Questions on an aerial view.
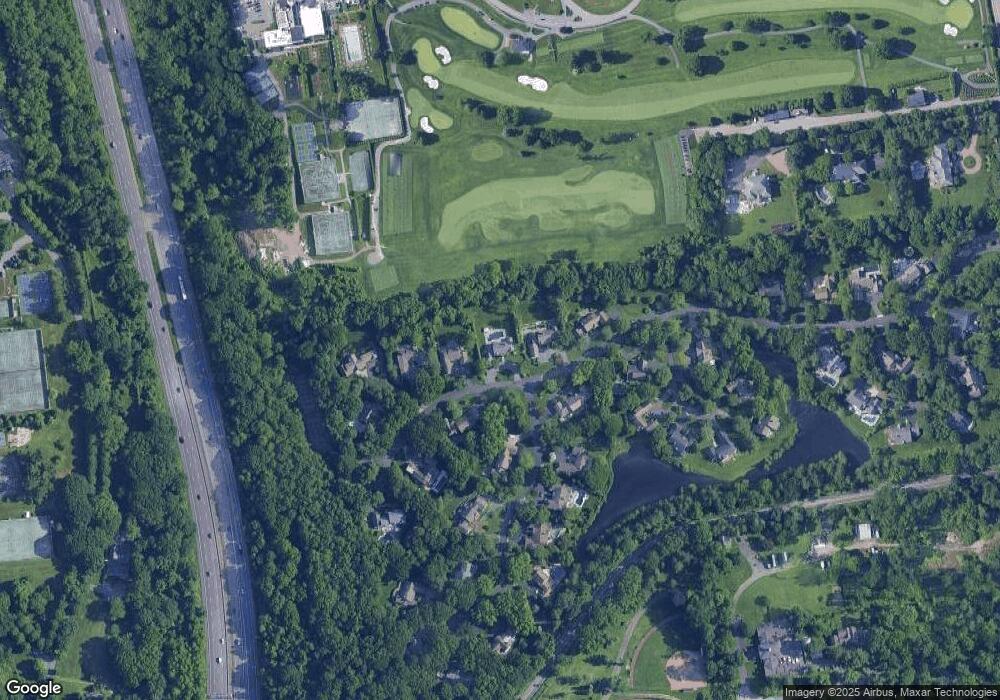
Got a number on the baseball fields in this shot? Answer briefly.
1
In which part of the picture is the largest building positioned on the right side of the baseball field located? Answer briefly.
bottom right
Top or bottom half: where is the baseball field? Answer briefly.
bottom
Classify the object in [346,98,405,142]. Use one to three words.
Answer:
tennis court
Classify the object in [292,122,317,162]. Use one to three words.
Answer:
sports court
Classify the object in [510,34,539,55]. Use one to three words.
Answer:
building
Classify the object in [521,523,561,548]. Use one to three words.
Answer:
house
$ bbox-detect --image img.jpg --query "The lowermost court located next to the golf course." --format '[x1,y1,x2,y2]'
[312,212,353,254]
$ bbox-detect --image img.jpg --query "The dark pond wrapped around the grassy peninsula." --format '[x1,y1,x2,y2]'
[579,338,867,573]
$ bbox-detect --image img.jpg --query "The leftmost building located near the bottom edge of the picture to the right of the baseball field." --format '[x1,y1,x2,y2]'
[757,625,803,678]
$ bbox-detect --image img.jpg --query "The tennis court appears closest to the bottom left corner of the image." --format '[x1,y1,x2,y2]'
[0,516,51,561]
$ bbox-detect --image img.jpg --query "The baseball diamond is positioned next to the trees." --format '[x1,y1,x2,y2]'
[630,593,710,693]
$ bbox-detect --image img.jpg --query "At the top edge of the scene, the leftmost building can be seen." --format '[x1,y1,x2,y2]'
[263,0,324,47]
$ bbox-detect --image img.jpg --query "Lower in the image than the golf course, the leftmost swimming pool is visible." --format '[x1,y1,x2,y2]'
[484,329,507,344]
